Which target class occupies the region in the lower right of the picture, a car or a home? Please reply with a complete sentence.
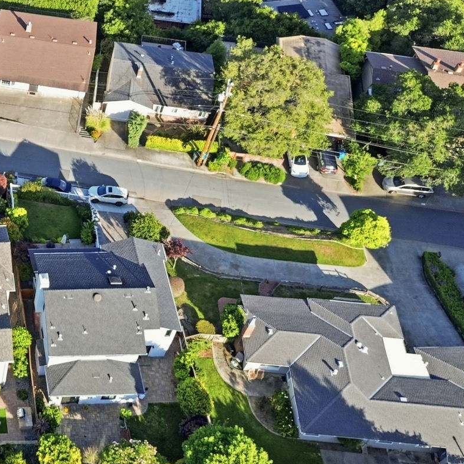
The one visible in the lower right of the picture is a home.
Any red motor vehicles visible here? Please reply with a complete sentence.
No, there's no red motor vehicle here.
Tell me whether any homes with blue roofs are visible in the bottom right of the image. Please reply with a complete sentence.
No, no home with a blue roof can be made out in the bottom right of the image.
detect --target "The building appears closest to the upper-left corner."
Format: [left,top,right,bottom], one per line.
[0,9,97,106]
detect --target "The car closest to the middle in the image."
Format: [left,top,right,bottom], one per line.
[289,148,309,176]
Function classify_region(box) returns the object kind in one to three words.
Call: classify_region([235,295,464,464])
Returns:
house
